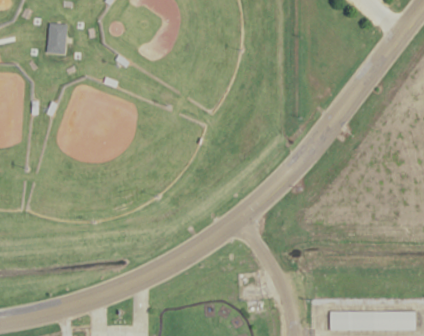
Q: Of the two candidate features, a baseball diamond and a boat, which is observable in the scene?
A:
baseball diamond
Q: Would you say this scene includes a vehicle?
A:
No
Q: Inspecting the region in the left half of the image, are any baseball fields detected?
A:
Yes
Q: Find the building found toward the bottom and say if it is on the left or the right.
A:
right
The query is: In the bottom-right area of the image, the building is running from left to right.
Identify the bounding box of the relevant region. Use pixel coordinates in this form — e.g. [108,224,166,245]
[330,312,416,332]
